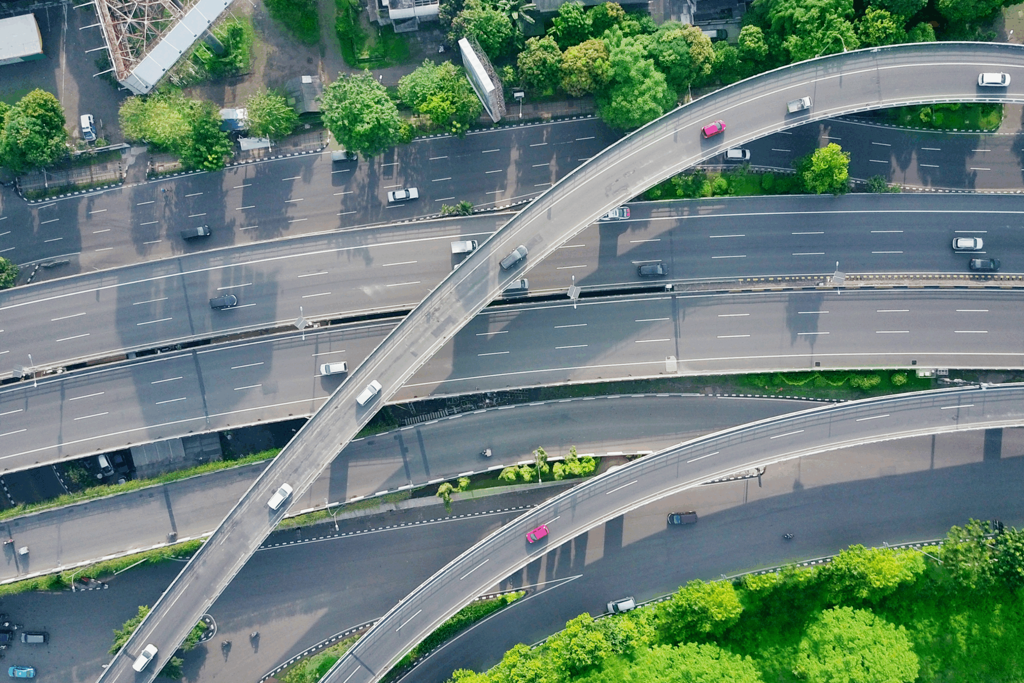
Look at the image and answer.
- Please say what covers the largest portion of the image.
paved ground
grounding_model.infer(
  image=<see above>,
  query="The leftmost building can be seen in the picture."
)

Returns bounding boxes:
[0,13,53,67]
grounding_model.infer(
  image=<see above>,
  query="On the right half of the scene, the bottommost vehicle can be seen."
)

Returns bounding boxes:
[607,597,637,613]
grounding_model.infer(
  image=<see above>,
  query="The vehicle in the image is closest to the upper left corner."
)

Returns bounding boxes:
[80,114,96,141]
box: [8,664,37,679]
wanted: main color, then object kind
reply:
blue car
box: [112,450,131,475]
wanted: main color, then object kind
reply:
black car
